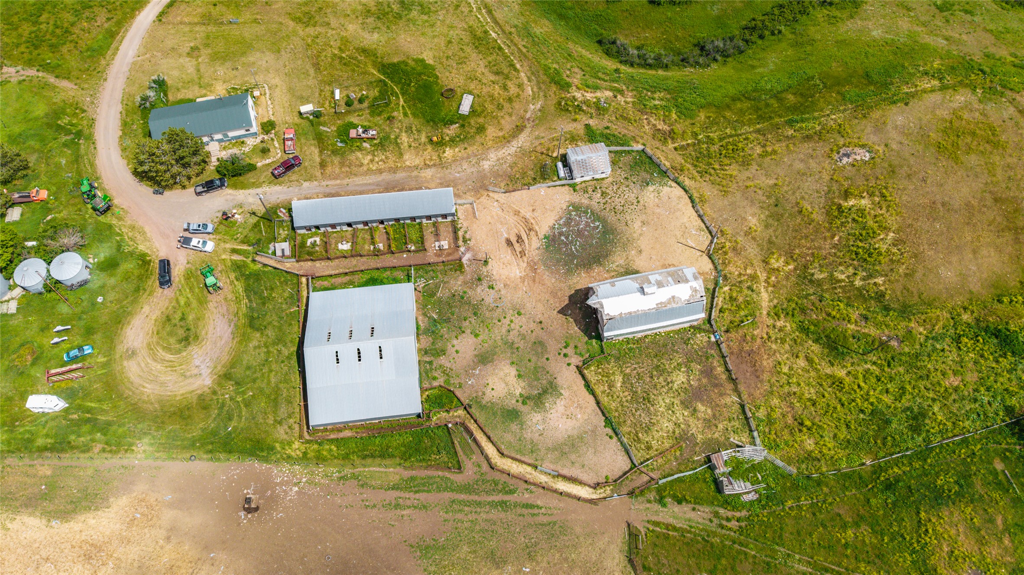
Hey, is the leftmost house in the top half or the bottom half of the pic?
top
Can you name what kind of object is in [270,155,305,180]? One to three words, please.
truck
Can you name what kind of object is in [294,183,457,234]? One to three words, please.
building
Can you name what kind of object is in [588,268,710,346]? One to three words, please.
barn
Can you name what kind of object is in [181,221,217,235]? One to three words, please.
car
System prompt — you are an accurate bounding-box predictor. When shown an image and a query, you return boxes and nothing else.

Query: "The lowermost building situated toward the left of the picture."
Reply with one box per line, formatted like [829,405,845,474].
[305,281,426,431]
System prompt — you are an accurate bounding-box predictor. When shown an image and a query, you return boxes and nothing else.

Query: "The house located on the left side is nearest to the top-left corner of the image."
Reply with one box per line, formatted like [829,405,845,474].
[148,91,257,149]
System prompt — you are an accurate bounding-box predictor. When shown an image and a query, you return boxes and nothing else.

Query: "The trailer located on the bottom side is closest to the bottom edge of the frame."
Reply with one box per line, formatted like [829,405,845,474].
[23,395,74,415]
